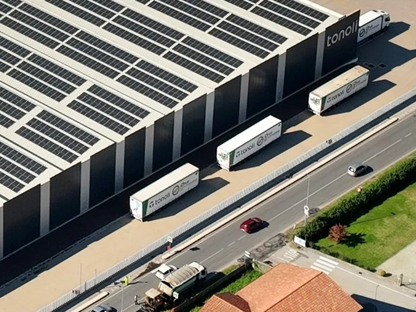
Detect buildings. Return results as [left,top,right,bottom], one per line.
[0,0,360,266]
[202,267,367,312]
